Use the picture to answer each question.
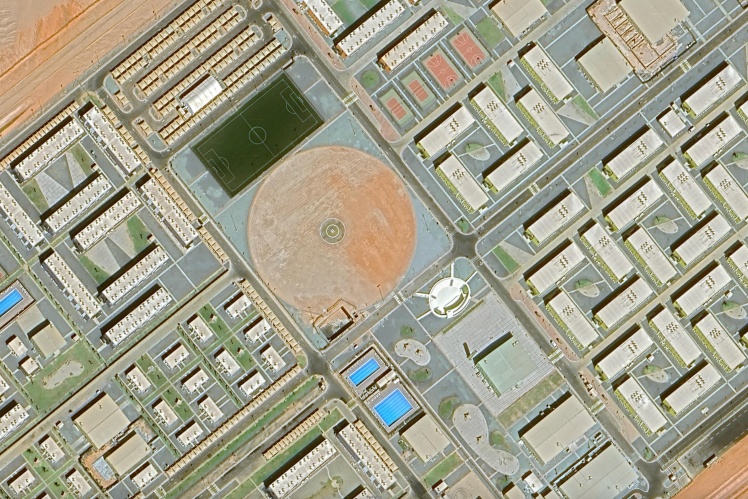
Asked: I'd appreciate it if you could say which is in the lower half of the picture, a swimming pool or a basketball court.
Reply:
swimming pool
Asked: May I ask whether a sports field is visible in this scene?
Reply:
Yes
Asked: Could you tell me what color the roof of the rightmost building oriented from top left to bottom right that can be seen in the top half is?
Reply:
white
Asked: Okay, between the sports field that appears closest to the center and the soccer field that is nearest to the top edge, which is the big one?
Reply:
the sports field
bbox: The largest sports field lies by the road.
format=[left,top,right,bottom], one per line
[249,147,416,313]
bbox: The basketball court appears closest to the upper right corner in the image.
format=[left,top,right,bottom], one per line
[445,24,492,75]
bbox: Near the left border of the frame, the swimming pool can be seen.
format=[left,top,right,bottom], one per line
[0,280,29,321]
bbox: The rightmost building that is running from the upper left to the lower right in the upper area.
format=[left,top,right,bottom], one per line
[700,165,748,224]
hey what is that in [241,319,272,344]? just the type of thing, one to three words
house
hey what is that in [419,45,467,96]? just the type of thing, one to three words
basketball court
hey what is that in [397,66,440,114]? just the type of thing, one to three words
sports court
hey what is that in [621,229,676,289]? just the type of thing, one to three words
building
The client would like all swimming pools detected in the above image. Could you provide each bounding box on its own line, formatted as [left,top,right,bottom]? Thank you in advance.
[0,280,29,321]
[367,381,417,432]
[343,351,386,392]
